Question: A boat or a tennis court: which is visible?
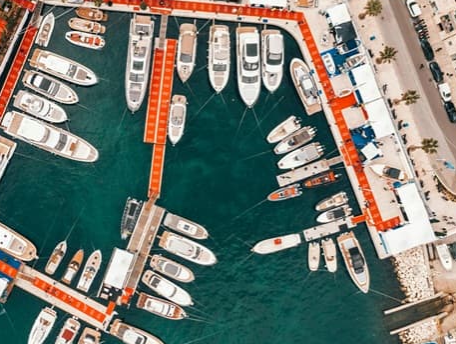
boat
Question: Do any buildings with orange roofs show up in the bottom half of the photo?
No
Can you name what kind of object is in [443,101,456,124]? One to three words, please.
vehicle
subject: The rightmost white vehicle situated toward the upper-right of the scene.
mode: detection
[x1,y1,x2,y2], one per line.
[436,82,454,103]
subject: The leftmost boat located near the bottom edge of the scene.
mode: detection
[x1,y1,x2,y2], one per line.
[27,303,57,344]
